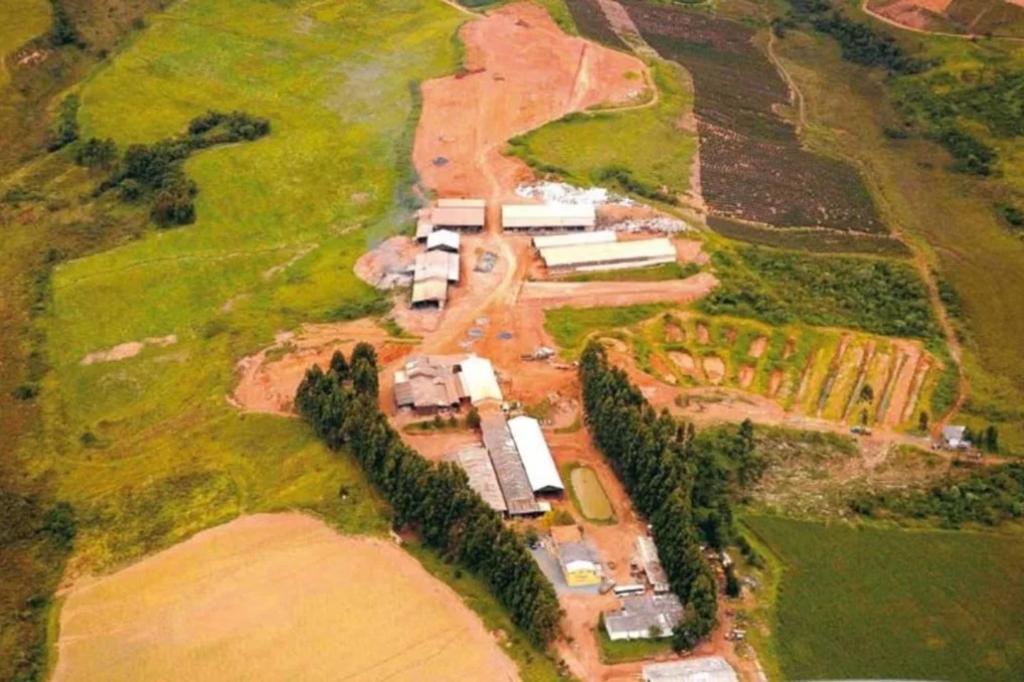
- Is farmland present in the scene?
Yes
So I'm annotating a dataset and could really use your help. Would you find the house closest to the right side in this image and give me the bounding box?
[940,426,973,451]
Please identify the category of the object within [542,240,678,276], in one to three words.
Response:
barn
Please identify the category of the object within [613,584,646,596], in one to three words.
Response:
vehicle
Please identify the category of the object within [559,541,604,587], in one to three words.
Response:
building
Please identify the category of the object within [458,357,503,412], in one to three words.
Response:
shed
